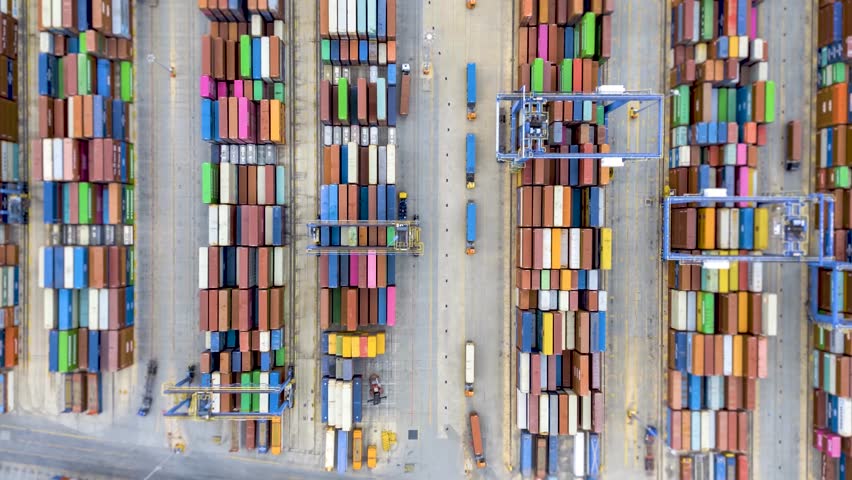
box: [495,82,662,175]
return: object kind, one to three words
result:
container crane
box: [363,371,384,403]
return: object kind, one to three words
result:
vehicle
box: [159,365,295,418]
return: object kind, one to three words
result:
container crane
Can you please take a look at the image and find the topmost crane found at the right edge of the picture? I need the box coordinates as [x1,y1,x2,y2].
[660,186,832,270]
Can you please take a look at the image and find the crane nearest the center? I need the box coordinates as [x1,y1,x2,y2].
[305,217,426,257]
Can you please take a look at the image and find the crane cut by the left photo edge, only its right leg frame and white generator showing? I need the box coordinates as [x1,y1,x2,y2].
[0,181,27,221]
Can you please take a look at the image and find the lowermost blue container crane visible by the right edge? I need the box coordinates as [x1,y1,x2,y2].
[808,250,852,326]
